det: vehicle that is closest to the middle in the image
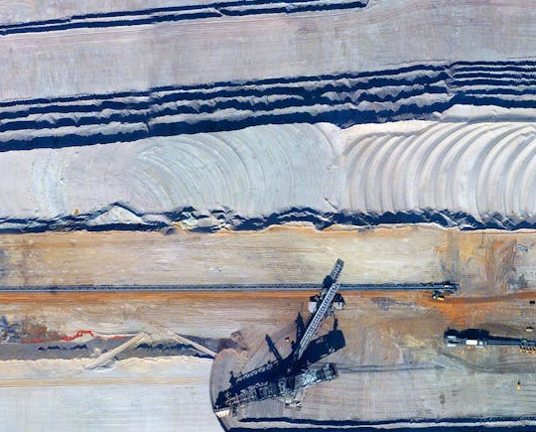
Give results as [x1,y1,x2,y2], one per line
[308,288,344,310]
